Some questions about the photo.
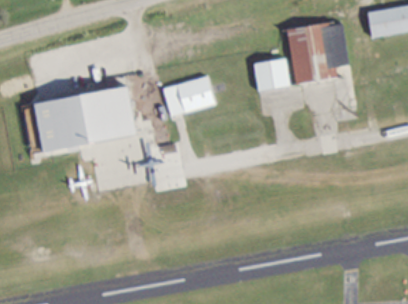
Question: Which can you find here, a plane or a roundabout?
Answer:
plane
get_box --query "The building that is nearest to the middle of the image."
[162,75,216,120]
